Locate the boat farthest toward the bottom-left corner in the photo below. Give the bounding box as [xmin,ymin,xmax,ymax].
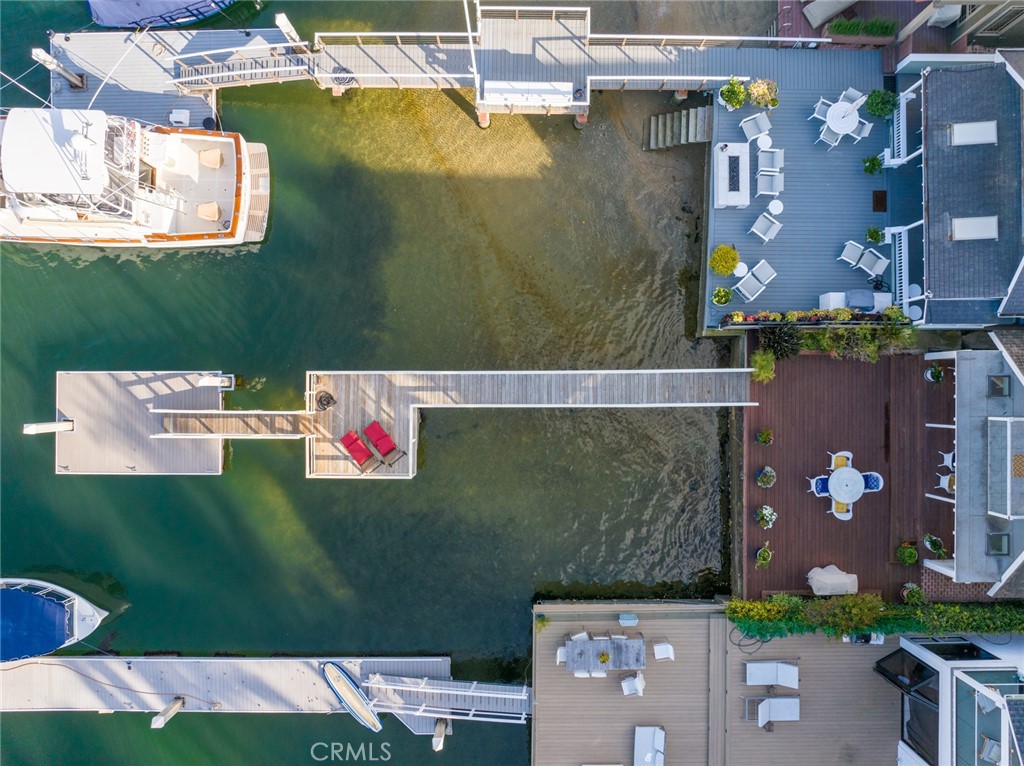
[0,576,108,662]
